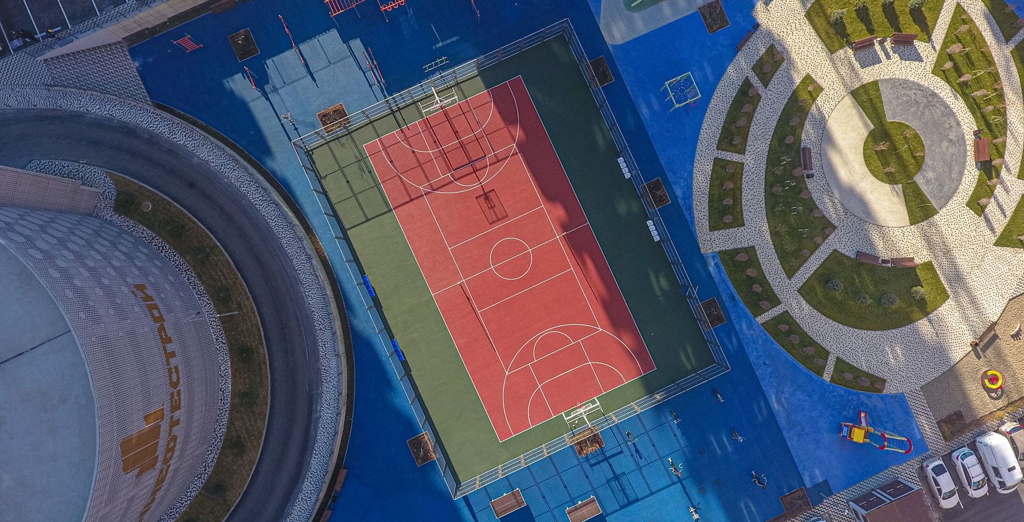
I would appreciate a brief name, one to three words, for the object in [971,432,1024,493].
van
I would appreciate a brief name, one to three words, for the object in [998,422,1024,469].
car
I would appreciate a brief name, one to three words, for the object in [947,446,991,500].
car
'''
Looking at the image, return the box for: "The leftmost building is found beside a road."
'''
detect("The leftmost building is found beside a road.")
[0,173,219,522]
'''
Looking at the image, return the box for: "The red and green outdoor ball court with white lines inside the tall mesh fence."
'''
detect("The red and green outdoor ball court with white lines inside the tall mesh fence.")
[307,33,715,482]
